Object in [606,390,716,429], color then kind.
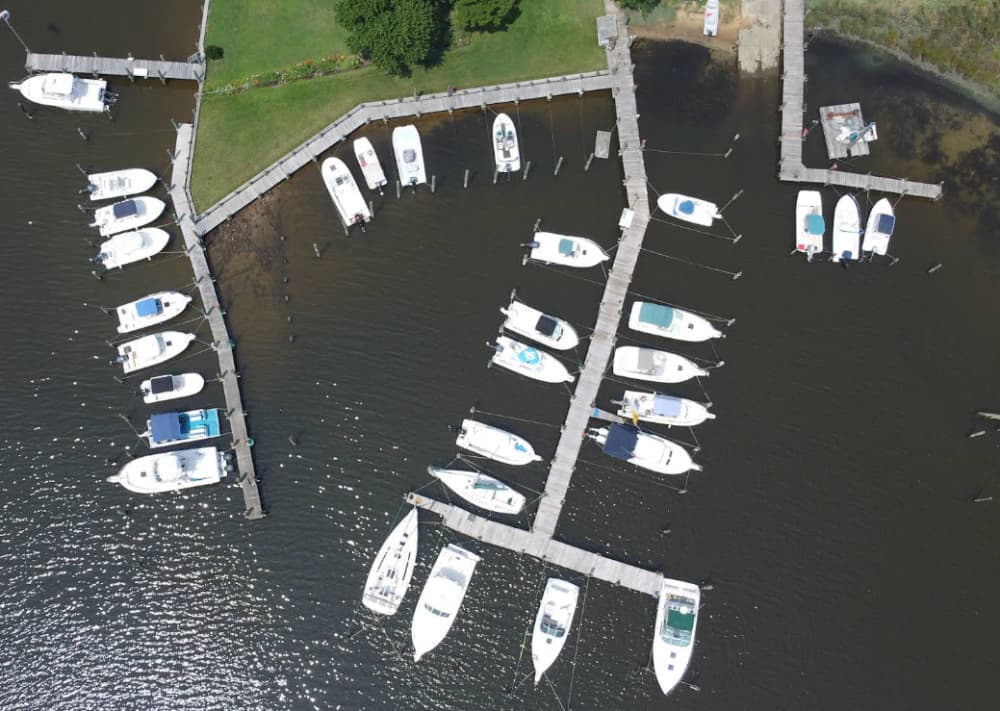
white boat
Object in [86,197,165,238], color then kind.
white boat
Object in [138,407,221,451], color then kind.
blue boat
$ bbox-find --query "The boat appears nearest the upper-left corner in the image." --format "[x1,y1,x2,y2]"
[7,73,120,111]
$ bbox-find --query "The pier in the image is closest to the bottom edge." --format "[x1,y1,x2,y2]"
[403,493,664,599]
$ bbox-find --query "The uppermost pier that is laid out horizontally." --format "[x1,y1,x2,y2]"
[21,44,200,87]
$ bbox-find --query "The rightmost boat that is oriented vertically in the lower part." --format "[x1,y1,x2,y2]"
[651,577,702,696]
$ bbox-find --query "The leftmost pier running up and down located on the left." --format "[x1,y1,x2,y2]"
[163,120,267,518]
